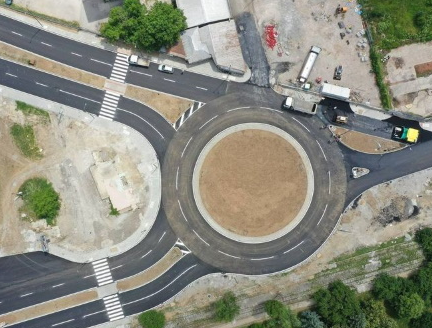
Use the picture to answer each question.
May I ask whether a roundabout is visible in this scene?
Yes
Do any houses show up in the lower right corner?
No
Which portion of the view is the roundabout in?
center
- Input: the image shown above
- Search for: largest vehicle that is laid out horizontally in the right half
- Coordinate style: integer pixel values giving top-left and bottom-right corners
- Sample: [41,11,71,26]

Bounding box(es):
[281,94,319,113]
